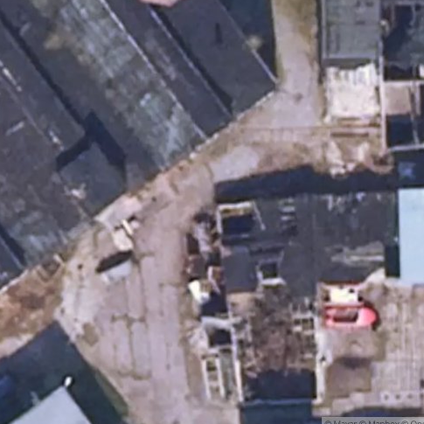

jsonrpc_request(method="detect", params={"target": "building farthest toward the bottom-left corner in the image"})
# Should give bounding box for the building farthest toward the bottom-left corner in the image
[6,386,92,424]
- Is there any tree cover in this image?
No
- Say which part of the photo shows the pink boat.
bottom right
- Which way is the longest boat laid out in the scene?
horizontally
